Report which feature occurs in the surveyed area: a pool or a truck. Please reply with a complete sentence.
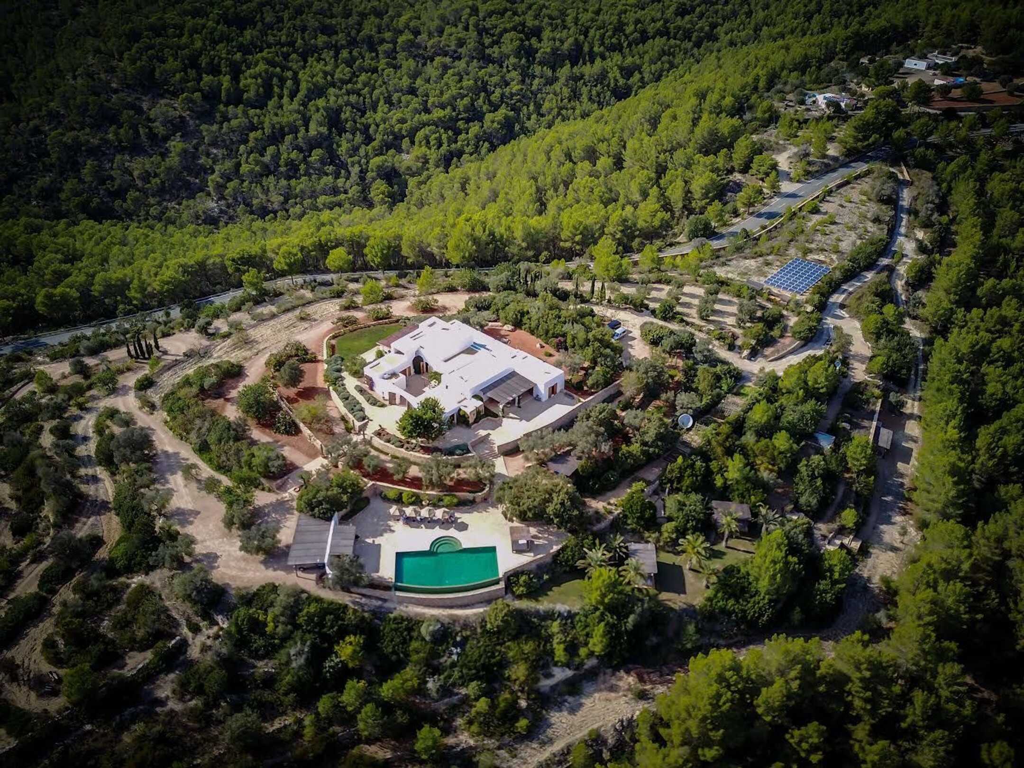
The image shows a pool.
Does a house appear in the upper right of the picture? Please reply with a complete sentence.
Yes, a house shows up in the upper right of the picture.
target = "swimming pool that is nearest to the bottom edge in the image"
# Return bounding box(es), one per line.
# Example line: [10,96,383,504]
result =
[386,531,508,612]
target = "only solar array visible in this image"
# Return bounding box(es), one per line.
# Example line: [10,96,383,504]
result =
[763,255,832,296]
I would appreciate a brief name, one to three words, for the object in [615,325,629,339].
car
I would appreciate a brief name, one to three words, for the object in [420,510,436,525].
umbrella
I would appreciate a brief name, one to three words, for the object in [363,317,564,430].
house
